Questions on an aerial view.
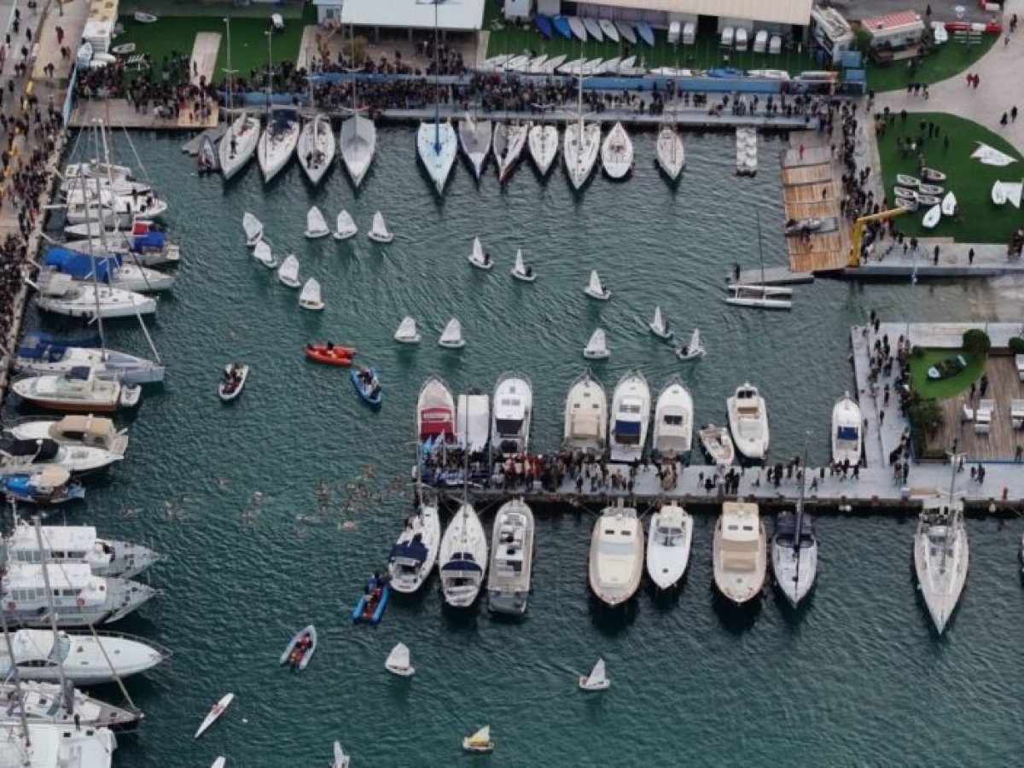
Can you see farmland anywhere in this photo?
No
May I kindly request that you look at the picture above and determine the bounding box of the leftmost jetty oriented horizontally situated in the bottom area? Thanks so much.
[423,465,864,509]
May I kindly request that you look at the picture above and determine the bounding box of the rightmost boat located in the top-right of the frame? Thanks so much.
[992,174,1008,205]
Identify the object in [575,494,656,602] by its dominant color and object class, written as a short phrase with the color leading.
white boat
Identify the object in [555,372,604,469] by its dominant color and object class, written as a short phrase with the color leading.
white boat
